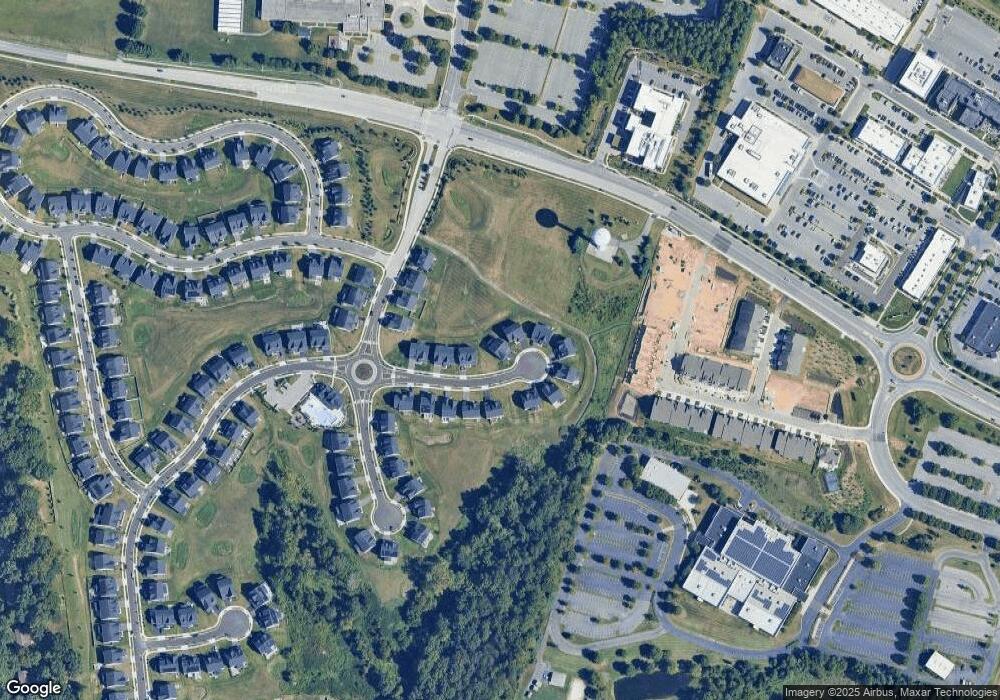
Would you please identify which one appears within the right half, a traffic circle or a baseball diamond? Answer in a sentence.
Looking within the right half, you will find a traffic circle.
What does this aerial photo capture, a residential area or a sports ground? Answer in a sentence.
What you see here is a residential area.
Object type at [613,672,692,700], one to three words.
pond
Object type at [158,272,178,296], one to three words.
house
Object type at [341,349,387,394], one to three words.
roundabout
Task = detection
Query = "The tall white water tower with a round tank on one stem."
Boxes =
[592,228,610,253]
